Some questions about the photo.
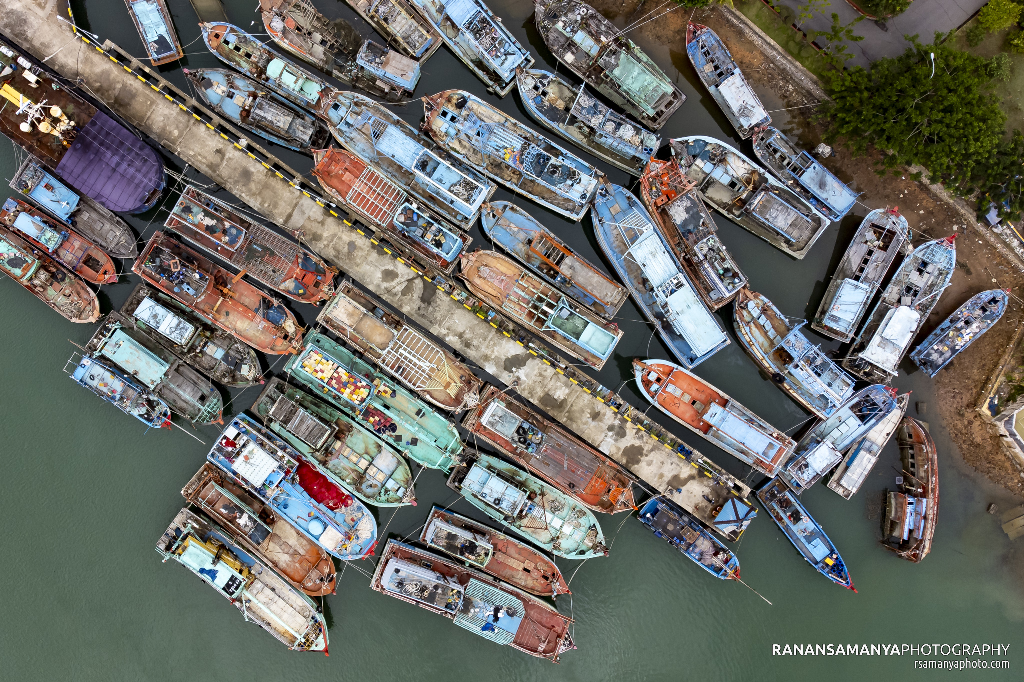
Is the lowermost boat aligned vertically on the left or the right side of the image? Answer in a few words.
right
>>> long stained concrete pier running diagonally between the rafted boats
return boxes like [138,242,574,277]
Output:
[0,0,756,543]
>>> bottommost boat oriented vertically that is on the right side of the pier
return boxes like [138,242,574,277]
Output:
[874,415,939,554]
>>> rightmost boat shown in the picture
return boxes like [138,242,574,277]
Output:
[909,286,1013,378]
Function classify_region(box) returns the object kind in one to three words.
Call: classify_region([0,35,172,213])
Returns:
ship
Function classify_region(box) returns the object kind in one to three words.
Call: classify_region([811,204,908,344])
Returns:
boat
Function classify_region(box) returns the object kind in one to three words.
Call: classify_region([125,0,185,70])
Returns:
boat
